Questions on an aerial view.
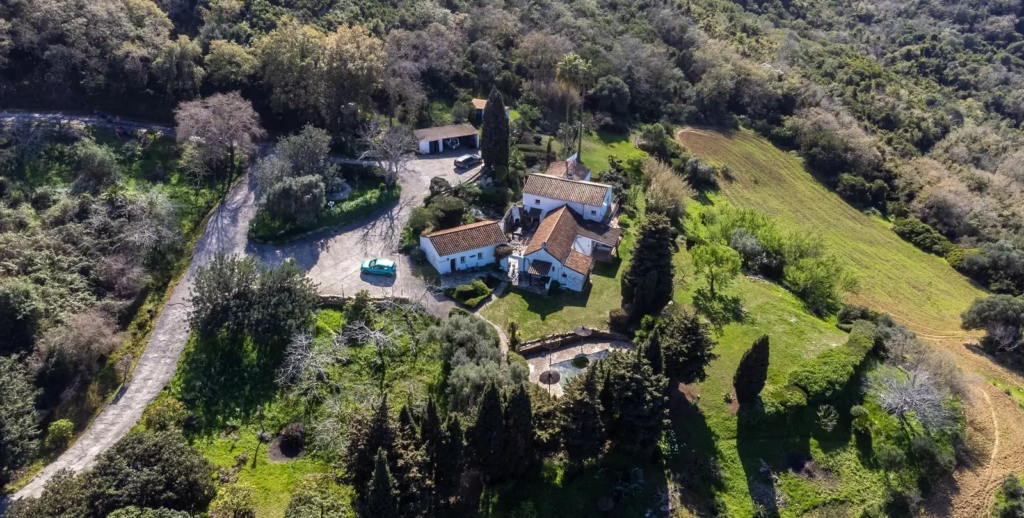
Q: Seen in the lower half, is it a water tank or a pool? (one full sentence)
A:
What appears in the lower half is a pool.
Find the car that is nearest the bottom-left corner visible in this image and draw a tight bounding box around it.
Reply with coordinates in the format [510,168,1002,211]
[360,256,398,275]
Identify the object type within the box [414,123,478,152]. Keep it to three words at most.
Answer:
building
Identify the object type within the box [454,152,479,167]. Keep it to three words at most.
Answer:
car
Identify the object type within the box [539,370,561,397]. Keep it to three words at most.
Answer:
umbrella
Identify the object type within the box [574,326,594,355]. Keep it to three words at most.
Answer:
umbrella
